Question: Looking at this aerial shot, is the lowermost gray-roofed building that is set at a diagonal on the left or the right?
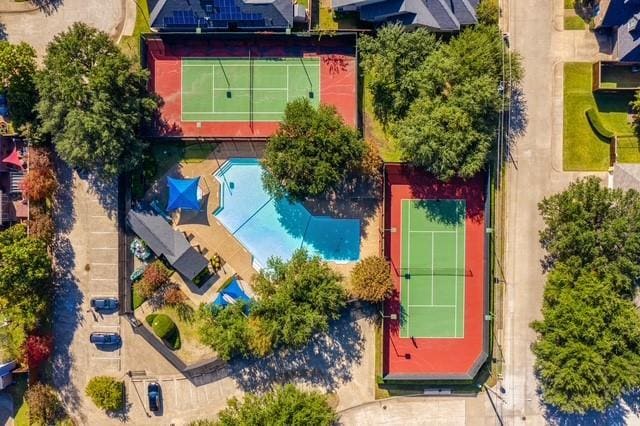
left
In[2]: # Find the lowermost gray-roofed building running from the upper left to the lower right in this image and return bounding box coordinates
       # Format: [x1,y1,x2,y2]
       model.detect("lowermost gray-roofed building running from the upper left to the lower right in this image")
[128,201,209,281]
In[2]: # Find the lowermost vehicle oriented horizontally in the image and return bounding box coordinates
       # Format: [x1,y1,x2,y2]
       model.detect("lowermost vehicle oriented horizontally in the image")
[91,332,122,345]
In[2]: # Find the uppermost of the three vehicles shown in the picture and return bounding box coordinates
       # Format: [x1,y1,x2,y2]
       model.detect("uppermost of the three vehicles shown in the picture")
[91,297,119,310]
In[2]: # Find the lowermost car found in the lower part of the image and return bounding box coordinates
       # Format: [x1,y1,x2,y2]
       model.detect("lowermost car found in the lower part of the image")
[147,381,161,410]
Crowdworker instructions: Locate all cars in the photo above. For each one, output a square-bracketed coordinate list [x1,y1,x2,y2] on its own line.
[147,381,161,410]
[91,297,119,310]
[91,332,122,345]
